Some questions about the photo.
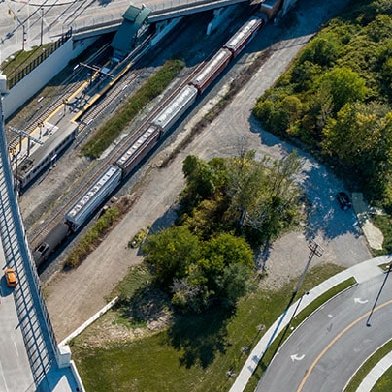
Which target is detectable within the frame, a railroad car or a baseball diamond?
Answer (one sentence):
The image shows a railroad car.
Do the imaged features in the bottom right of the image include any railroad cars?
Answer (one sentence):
No, I see no railroad car in the bottom right of the image.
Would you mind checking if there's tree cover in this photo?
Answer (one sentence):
Yes, there is tree cover in the image.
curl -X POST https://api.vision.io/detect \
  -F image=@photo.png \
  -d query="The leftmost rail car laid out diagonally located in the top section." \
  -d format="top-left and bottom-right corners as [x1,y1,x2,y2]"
[15,120,78,187]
